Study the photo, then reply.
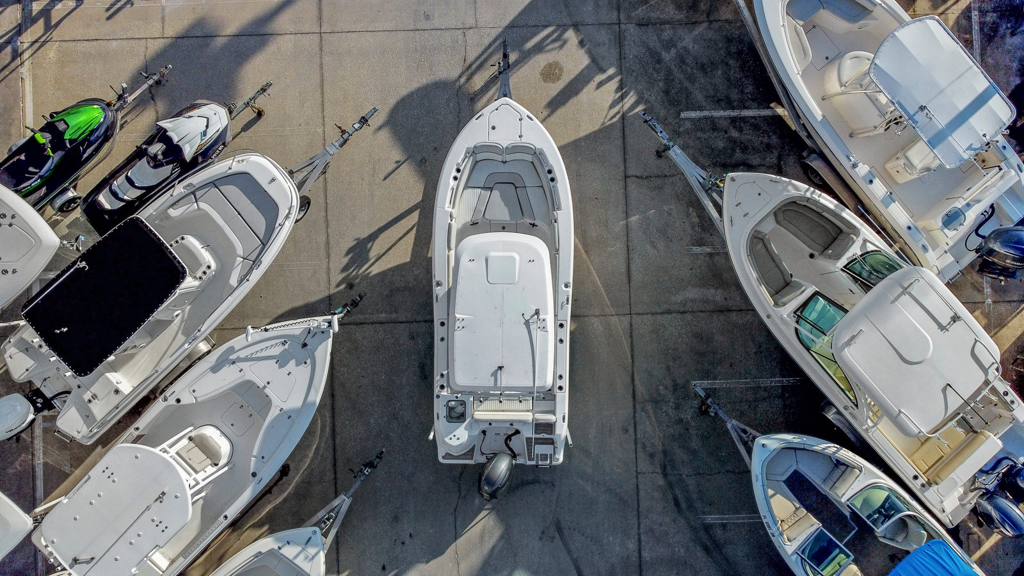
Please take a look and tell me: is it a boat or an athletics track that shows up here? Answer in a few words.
boat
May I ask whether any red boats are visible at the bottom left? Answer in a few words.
No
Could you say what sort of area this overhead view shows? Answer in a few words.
parking lot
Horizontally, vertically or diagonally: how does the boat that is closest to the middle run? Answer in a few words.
vertically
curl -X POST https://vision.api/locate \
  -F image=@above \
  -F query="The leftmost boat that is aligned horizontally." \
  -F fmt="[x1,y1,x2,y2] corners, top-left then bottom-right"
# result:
[207,525,328,576]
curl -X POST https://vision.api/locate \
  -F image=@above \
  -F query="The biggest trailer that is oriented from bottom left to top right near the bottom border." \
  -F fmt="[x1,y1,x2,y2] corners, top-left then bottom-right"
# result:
[248,436,398,562]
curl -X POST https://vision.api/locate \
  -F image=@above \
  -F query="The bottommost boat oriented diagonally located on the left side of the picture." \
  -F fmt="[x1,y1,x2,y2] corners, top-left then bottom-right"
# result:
[27,314,338,576]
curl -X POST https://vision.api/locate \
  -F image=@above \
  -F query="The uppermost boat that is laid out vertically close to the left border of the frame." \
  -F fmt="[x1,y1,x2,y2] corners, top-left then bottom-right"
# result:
[0,182,64,312]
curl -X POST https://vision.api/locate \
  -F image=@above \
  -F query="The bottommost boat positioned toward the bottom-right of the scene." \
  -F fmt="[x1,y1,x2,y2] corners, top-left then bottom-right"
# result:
[749,432,987,576]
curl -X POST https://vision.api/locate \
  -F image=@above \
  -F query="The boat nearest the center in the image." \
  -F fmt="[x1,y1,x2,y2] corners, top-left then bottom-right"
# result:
[432,98,575,496]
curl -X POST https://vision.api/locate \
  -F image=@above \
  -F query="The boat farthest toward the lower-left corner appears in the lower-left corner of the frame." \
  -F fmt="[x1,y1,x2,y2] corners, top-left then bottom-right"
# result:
[0,480,38,564]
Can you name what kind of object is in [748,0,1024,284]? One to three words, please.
boat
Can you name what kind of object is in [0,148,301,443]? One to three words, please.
boat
